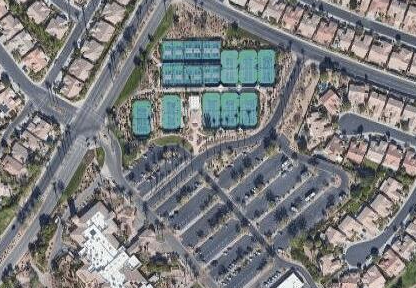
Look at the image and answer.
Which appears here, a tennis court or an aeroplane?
tennis court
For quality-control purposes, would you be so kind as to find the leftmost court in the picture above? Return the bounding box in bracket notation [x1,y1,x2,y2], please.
[132,101,150,138]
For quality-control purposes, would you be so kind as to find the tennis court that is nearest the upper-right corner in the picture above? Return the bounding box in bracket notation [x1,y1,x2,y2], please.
[258,50,275,83]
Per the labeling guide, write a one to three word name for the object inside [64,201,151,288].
building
